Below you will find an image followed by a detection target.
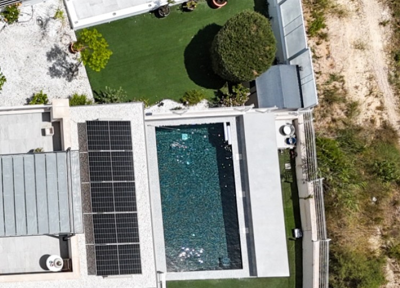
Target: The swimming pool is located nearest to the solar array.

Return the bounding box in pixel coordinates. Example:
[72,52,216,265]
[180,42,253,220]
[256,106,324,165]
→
[144,120,249,281]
